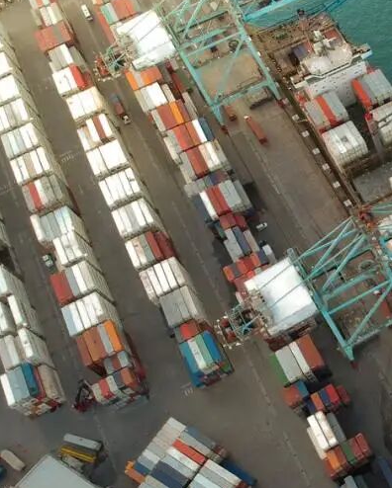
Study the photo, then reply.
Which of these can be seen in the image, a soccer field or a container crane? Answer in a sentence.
Of the two, only a container crane appears.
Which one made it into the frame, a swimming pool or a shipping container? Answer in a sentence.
Visible in the photo is a shipping container.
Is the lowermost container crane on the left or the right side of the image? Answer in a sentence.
You can find the lowermost container crane on the right side of the picture.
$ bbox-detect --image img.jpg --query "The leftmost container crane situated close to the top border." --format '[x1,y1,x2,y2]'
[93,0,301,135]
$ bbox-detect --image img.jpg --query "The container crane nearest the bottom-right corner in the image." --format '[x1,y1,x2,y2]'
[210,205,392,372]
